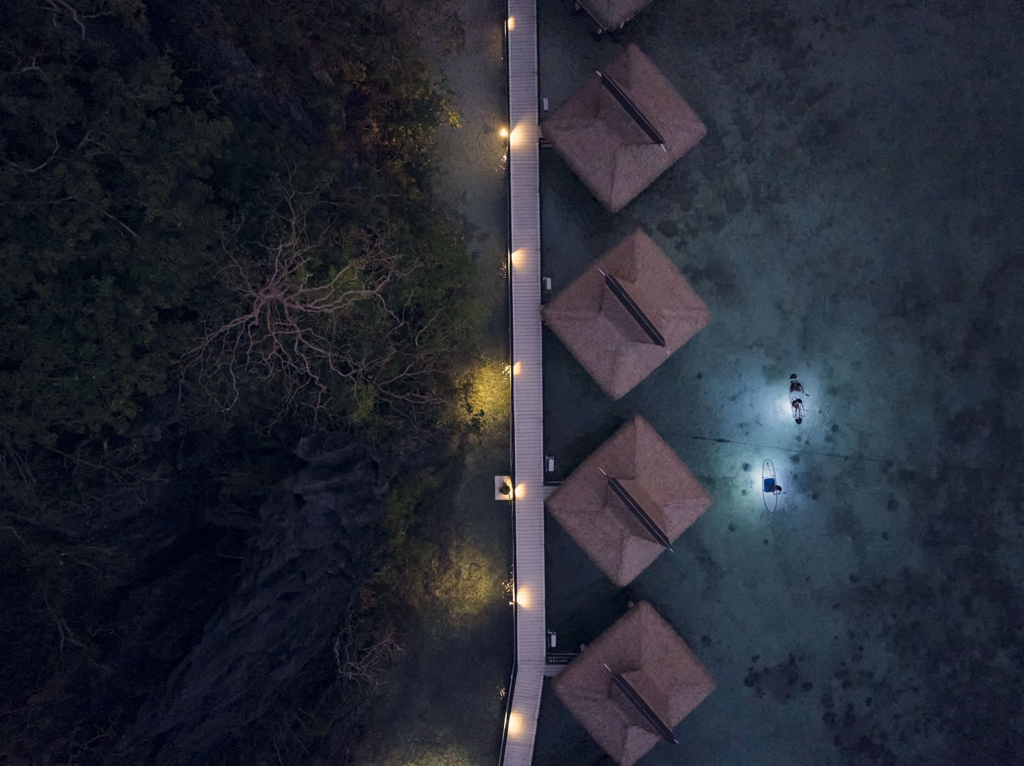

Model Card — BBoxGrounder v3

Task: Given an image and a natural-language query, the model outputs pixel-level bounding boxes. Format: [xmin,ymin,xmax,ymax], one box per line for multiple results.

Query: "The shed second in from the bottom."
[543,418,713,586]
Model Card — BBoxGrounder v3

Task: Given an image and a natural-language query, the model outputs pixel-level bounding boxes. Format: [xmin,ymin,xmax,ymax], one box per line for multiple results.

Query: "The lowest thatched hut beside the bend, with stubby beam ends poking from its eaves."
[550,599,717,766]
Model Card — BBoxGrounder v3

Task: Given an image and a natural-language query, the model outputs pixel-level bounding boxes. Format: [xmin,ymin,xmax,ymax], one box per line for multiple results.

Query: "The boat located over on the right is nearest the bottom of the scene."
[761,459,778,514]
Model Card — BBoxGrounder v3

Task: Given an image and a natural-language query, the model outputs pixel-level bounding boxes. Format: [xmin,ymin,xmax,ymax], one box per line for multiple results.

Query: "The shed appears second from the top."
[541,44,710,211]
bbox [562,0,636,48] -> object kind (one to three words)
shed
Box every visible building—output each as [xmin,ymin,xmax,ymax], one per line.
[541,44,710,211]
[543,418,713,586]
[562,0,636,48]
[550,599,717,766]
[541,228,712,398]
